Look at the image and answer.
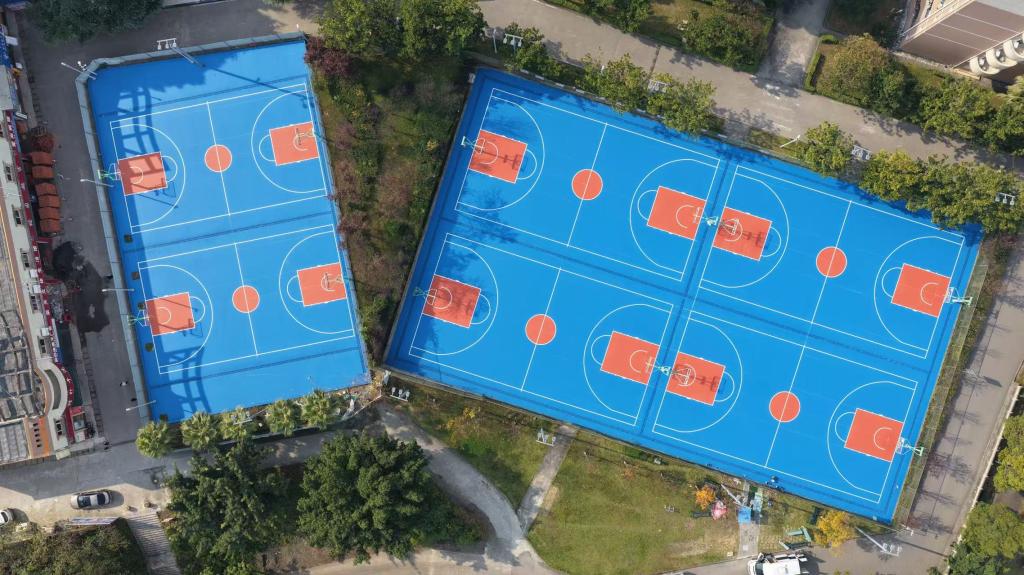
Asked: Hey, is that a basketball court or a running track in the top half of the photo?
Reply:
basketball court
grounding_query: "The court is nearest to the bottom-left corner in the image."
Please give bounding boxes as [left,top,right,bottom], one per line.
[123,209,371,422]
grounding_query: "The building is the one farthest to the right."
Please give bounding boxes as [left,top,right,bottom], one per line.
[904,0,1024,103]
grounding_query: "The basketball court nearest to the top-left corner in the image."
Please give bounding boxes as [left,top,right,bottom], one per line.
[89,40,337,251]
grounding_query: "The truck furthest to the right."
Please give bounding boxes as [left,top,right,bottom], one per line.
[751,552,801,575]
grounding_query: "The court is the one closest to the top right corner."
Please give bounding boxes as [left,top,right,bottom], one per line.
[685,147,985,374]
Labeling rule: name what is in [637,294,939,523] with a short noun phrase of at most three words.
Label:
basketball court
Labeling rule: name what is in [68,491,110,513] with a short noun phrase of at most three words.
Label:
car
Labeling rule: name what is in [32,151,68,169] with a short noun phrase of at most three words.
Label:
tent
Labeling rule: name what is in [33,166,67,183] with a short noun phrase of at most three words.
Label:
tent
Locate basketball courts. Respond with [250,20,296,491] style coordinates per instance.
[685,147,985,374]
[431,67,729,291]
[123,209,371,422]
[385,214,682,442]
[637,294,939,523]
[89,40,337,251]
